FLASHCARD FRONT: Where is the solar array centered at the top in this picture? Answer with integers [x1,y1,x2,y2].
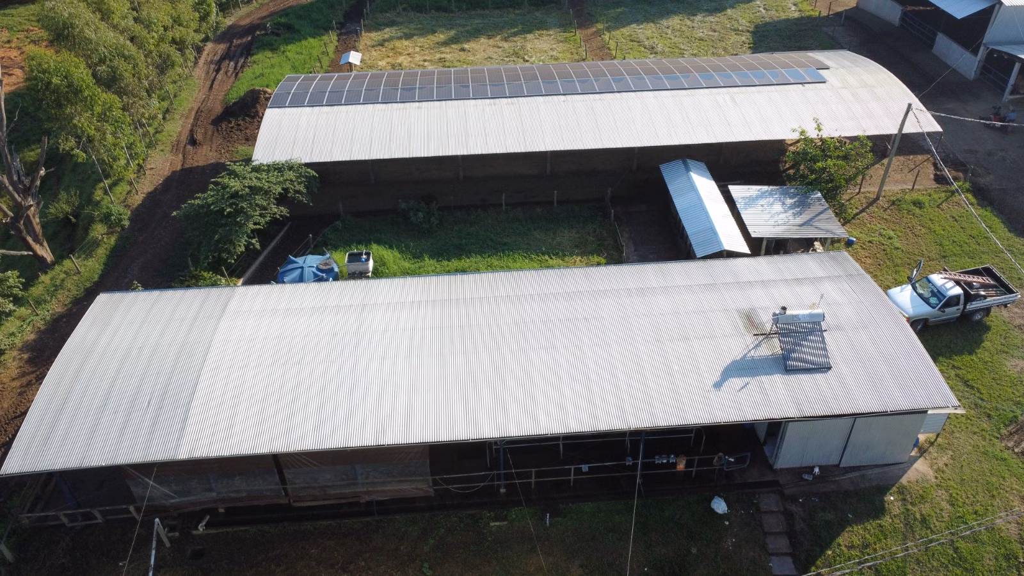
[270,51,828,106]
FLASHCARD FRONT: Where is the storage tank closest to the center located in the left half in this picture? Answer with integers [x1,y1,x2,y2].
[343,250,374,278]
